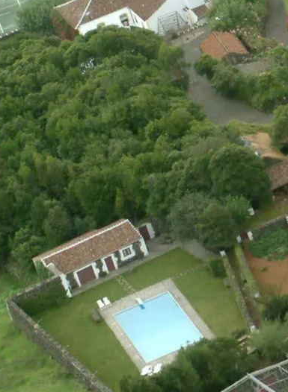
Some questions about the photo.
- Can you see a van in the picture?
No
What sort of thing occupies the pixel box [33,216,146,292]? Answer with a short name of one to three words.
building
